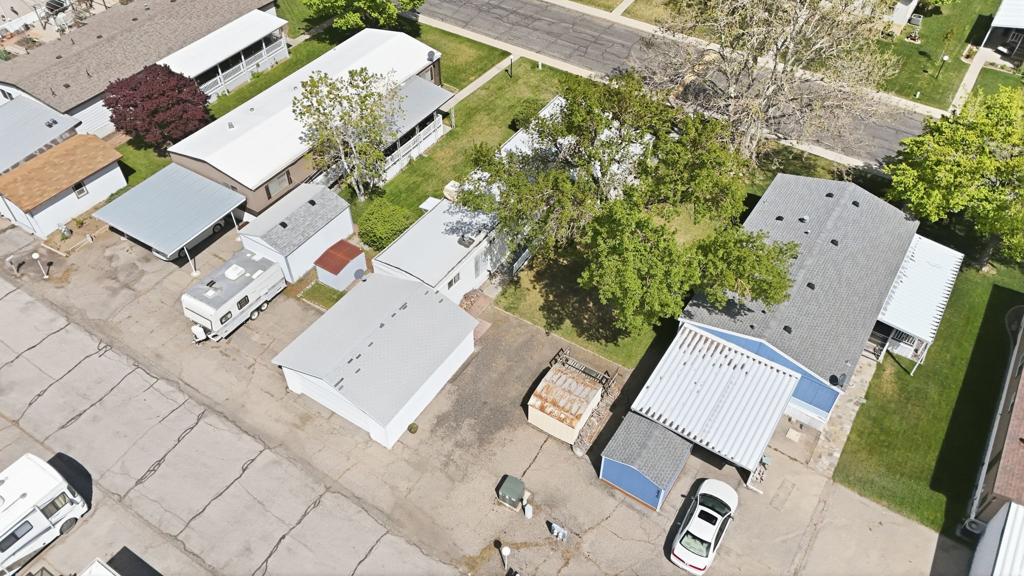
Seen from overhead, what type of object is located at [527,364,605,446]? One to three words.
shed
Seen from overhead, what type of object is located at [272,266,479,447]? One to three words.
building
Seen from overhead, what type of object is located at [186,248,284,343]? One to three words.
trailer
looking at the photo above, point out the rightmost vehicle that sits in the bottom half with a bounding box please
[673,477,734,576]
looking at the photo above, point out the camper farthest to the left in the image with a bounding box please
[0,456,90,576]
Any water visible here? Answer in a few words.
No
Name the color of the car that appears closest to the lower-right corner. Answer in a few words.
white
